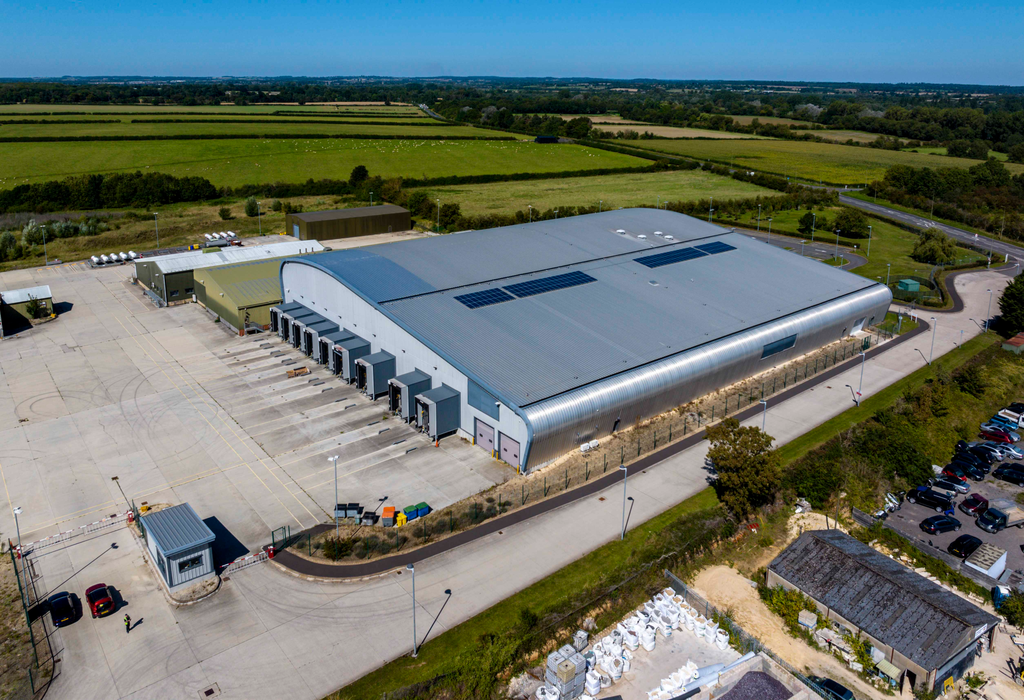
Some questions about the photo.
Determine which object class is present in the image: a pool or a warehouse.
warehouse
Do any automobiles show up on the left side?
Yes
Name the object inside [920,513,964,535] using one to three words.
car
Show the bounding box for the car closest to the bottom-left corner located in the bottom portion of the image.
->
[44,586,77,624]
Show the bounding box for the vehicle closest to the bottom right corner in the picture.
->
[1000,648,1024,683]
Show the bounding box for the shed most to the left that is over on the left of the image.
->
[0,285,53,322]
